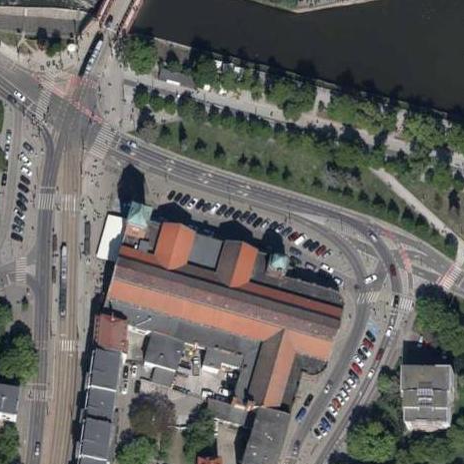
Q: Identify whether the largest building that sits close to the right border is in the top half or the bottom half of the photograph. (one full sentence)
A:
Seen from above, the largest building that sits close to the right border lies in the bottom half of the view.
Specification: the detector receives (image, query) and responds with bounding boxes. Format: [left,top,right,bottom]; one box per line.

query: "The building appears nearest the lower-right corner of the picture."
[397,366,457,435]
